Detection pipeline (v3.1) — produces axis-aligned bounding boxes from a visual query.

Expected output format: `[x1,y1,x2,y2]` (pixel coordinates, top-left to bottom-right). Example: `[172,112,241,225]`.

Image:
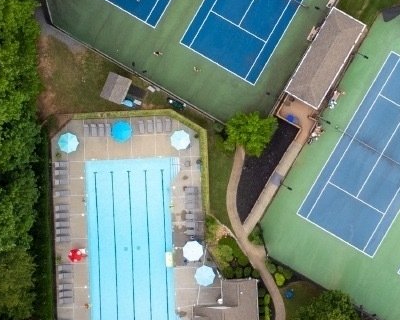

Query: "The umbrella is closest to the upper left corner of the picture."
[58,131,80,153]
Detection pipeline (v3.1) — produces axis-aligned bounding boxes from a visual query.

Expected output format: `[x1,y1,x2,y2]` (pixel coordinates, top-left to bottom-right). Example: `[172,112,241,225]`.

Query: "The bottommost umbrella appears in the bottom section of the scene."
[195,264,216,285]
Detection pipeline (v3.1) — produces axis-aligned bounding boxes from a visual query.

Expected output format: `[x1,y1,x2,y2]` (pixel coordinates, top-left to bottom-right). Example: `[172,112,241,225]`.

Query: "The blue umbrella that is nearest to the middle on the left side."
[111,119,134,142]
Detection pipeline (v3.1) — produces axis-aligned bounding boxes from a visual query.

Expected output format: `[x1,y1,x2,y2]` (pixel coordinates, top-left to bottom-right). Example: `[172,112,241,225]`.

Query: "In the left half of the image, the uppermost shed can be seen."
[100,73,135,104]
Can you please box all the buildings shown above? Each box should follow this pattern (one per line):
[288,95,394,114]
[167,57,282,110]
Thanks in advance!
[191,279,261,320]
[285,8,367,109]
[100,73,135,104]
